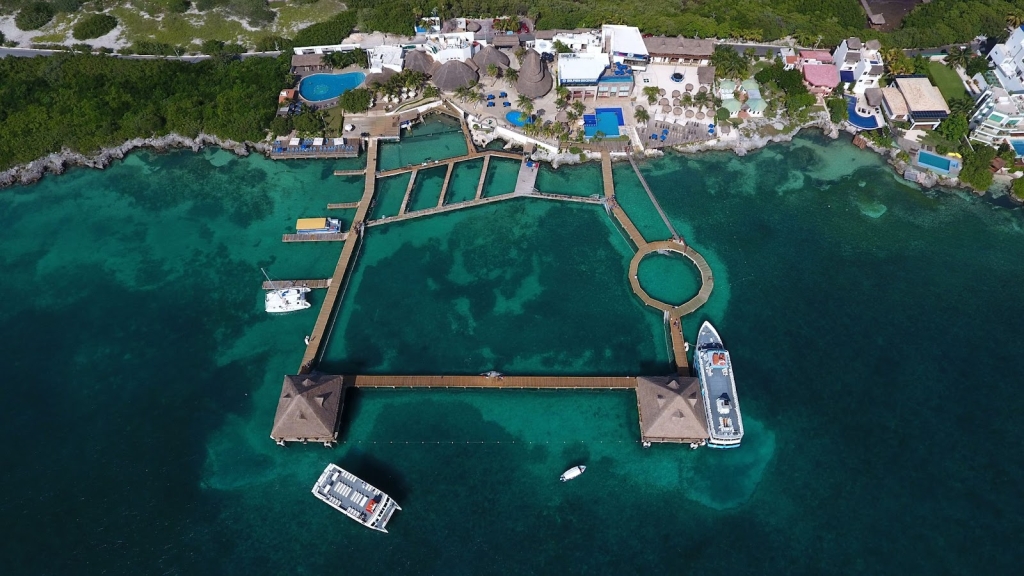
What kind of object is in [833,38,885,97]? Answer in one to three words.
house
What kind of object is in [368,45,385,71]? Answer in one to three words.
house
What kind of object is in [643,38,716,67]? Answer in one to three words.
building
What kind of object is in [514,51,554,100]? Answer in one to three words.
shed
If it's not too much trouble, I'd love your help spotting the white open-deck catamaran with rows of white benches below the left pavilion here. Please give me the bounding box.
[311,463,400,530]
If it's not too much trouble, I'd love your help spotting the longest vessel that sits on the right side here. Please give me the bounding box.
[695,319,745,449]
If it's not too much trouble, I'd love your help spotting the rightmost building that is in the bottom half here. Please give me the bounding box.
[634,376,708,445]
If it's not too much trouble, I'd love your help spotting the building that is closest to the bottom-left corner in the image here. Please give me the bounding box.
[270,375,348,444]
